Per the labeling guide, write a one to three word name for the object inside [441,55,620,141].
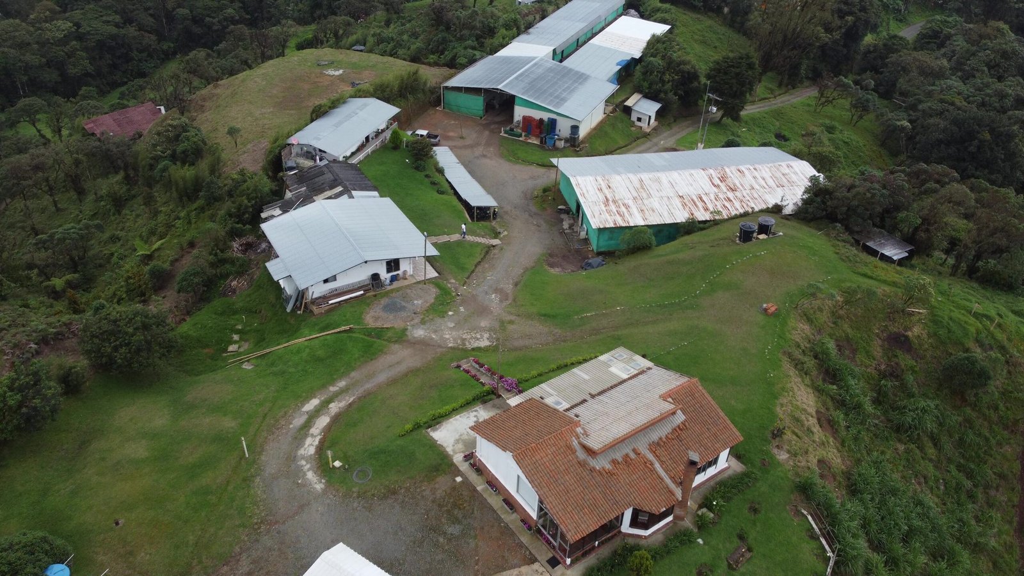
barn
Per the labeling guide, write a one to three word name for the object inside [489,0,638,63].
building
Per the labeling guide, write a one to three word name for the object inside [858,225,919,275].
shed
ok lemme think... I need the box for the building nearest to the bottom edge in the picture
[468,347,744,568]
